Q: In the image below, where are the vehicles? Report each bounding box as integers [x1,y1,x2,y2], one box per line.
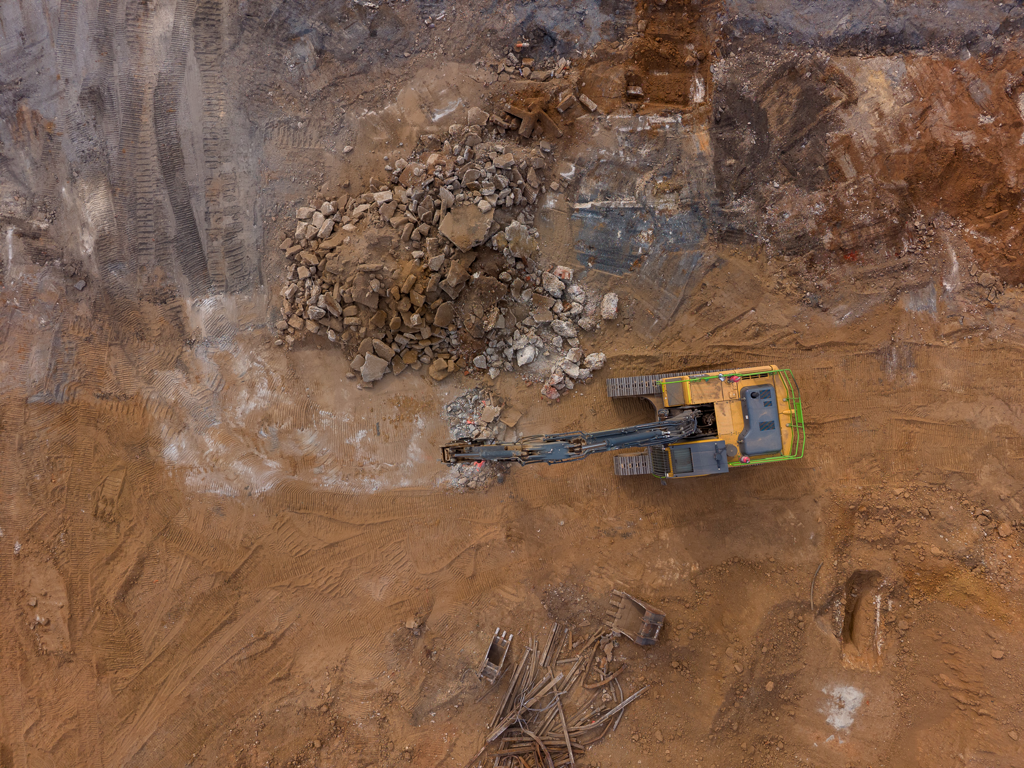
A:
[438,365,806,485]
